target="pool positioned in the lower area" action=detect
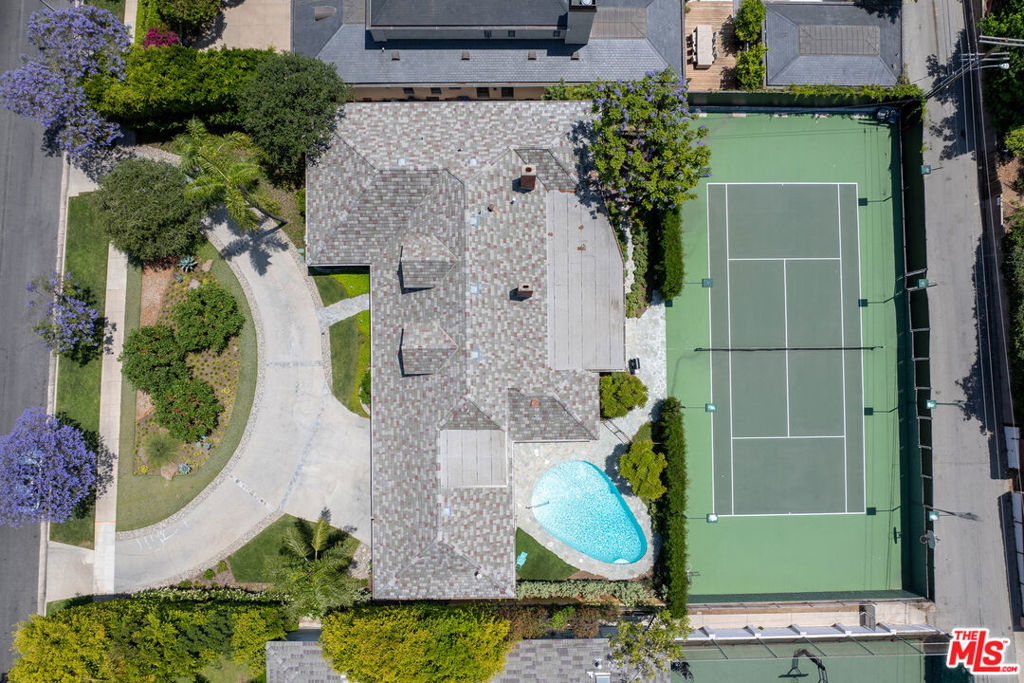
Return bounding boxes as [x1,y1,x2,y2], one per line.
[527,455,651,568]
